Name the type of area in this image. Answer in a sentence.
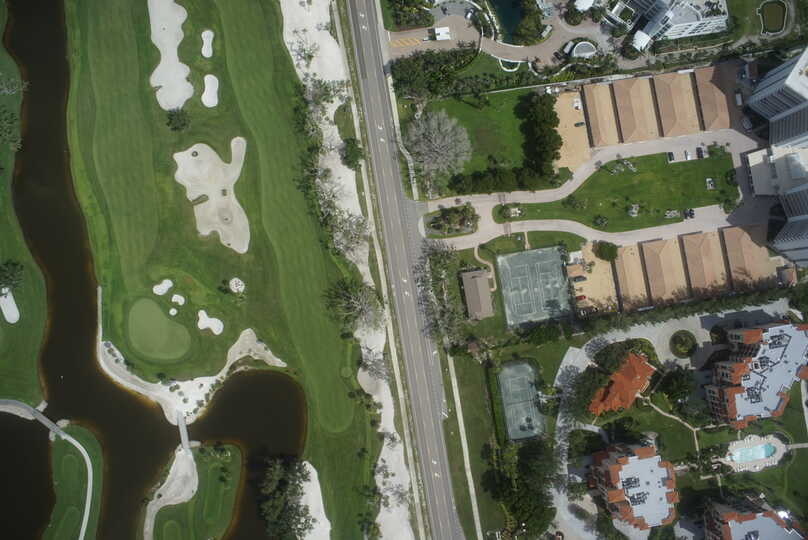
The area seen from above is a golf course.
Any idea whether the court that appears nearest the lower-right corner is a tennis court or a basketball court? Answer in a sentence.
I'd identify the court that appears nearest the lower-right corner as a tennis court.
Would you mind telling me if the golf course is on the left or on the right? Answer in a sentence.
You can find the golf course on the left side of the picture.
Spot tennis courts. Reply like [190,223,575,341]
[498,361,548,441]
[529,246,573,319]
[497,251,541,327]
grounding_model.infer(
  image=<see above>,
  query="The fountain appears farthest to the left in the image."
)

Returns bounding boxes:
[574,41,597,58]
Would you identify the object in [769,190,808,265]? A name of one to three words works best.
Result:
building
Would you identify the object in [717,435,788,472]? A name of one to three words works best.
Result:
swimming pool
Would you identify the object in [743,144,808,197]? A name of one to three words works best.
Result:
building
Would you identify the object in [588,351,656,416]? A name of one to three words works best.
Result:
house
